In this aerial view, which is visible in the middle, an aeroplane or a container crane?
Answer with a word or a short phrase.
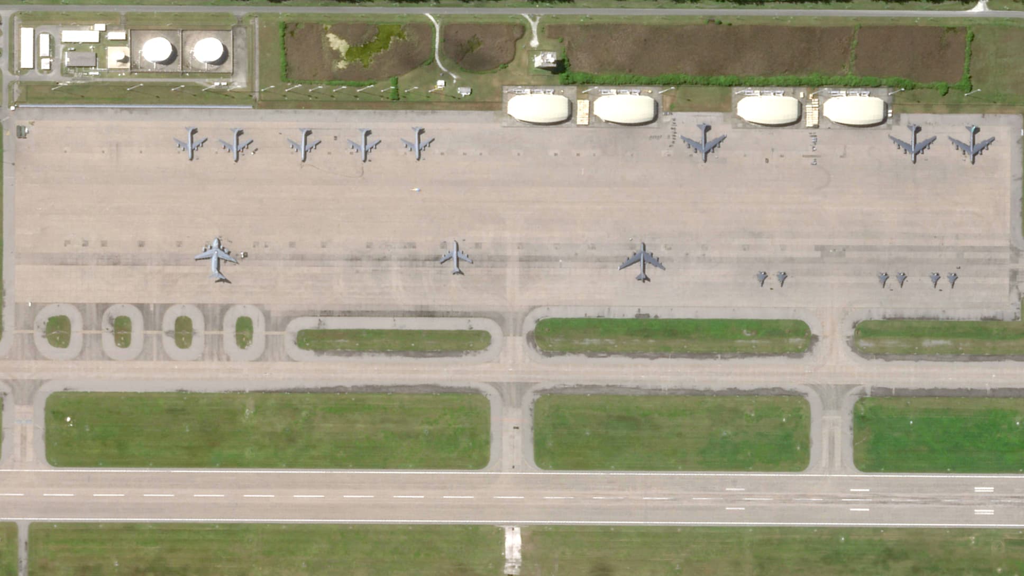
aeroplane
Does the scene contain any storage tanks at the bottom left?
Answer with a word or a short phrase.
No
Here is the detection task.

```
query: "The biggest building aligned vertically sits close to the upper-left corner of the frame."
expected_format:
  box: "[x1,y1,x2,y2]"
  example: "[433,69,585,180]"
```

[21,27,34,68]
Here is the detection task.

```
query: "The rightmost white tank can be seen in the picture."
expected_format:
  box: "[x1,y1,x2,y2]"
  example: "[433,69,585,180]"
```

[191,37,224,70]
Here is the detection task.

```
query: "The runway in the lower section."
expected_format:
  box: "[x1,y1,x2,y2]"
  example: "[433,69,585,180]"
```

[0,471,1024,525]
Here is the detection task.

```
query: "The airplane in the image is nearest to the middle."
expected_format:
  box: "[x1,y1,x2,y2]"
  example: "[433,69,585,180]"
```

[438,239,472,271]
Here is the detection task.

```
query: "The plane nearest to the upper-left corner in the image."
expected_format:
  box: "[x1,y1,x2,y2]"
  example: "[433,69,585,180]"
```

[174,127,208,161]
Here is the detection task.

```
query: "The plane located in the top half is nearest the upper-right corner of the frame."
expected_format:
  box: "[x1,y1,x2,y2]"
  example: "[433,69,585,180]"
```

[950,126,996,165]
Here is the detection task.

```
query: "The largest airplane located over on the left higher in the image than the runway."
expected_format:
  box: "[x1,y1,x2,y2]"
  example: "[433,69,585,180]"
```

[194,236,237,278]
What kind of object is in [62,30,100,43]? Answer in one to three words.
building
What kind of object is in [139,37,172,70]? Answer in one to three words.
storage tank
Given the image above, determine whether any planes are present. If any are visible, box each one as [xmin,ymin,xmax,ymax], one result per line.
[619,241,665,280]
[891,125,937,164]
[896,272,907,288]
[947,272,958,288]
[777,271,787,286]
[879,272,889,287]
[401,127,435,160]
[219,129,253,163]
[347,129,381,162]
[682,124,728,163]
[950,126,996,165]
[194,236,237,278]
[287,129,321,162]
[174,127,208,161]
[930,272,940,287]
[438,239,472,271]
[756,271,767,286]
